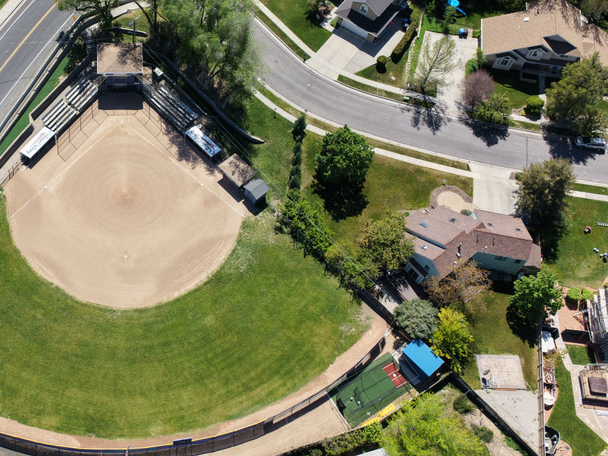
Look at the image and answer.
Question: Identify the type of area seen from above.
sports ground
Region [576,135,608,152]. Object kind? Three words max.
car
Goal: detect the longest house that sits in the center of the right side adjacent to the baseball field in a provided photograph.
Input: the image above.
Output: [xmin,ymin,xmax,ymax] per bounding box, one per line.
[394,206,541,285]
